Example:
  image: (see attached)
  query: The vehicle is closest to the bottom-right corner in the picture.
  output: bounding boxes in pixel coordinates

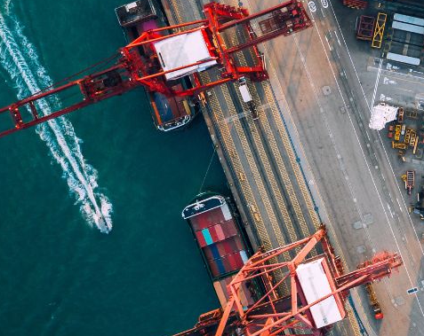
[364,281,384,318]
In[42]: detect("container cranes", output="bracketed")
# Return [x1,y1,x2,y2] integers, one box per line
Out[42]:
[158,214,403,336]
[0,0,316,138]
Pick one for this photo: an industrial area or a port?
port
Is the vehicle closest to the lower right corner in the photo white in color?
No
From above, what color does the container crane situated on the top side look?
red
